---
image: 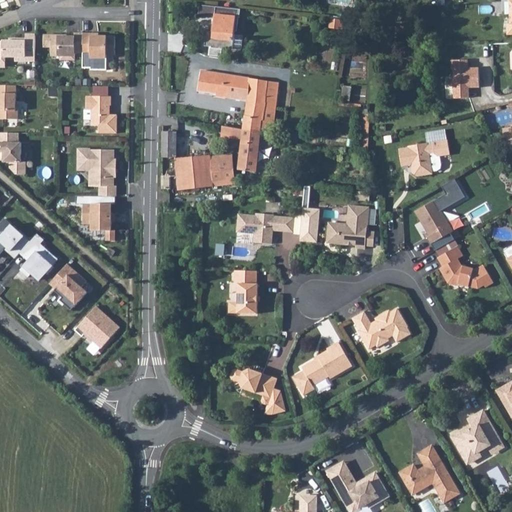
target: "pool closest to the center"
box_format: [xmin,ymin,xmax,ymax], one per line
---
[231,244,250,260]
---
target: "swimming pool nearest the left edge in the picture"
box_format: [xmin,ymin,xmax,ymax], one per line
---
[36,164,53,182]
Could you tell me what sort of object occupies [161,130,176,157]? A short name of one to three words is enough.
barn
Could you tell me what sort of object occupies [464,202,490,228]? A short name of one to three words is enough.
swimming pool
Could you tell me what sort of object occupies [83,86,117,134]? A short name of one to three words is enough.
house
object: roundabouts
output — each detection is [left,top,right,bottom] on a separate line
[115,376,185,446]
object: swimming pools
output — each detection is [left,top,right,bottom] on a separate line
[328,0,354,6]
[494,108,512,128]
[36,164,53,182]
[478,4,494,14]
[322,208,338,220]
[464,202,490,228]
[491,226,512,242]
[68,173,81,186]
[231,244,250,260]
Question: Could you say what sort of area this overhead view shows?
residential area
